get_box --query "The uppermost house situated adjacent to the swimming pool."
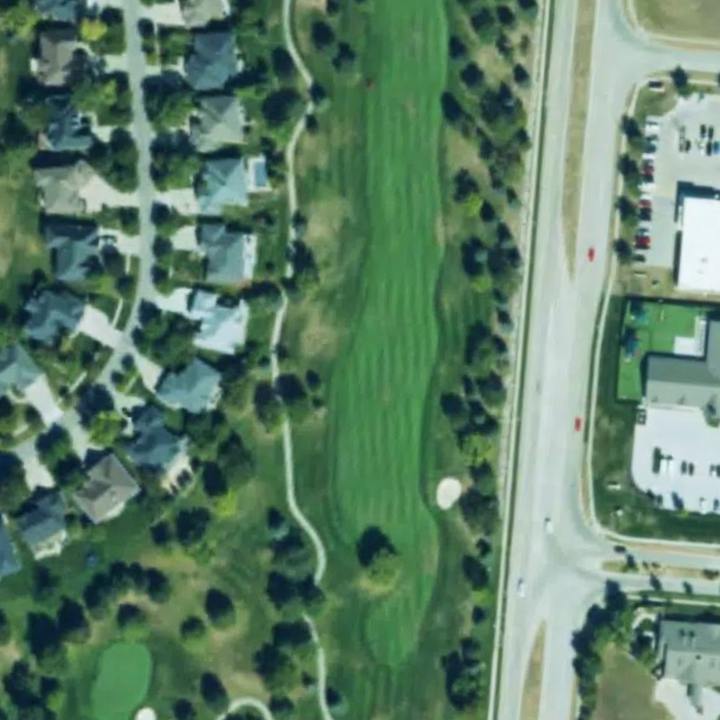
[190,100,243,149]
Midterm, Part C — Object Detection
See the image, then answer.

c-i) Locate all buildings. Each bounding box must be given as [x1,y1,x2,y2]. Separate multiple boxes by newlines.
[179,0,226,24]
[38,31,83,86]
[46,106,92,153]
[159,360,221,414]
[45,224,100,280]
[0,516,19,570]
[190,290,246,353]
[195,159,248,213]
[13,488,68,540]
[20,288,86,348]
[38,162,104,217]
[122,408,186,472]
[647,317,720,422]
[660,621,720,715]
[184,32,237,93]
[199,222,249,283]
[676,197,720,292]
[190,100,243,149]
[74,459,139,522]
[0,345,44,402]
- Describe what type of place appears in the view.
golf course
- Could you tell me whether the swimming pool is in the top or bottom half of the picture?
top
